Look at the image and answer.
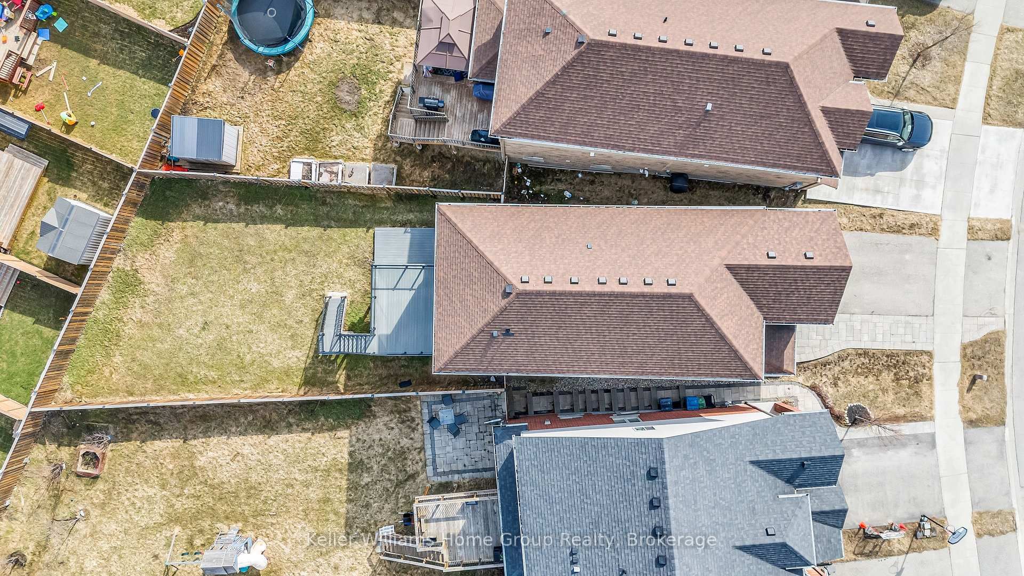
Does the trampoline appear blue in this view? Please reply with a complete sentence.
Yes, the trampoline is blue.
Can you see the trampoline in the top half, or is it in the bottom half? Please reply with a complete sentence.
Seen from above, the trampoline lies in the top half of the view.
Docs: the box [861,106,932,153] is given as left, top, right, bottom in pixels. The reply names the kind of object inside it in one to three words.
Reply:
car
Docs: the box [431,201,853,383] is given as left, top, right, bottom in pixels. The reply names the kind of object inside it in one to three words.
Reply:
house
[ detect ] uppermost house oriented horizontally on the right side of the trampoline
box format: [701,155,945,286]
[467,0,905,193]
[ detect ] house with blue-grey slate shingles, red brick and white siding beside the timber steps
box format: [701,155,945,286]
[492,402,849,576]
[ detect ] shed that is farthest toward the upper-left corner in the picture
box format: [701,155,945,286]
[0,108,51,145]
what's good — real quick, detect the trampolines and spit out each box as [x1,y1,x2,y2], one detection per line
[222,0,319,60]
